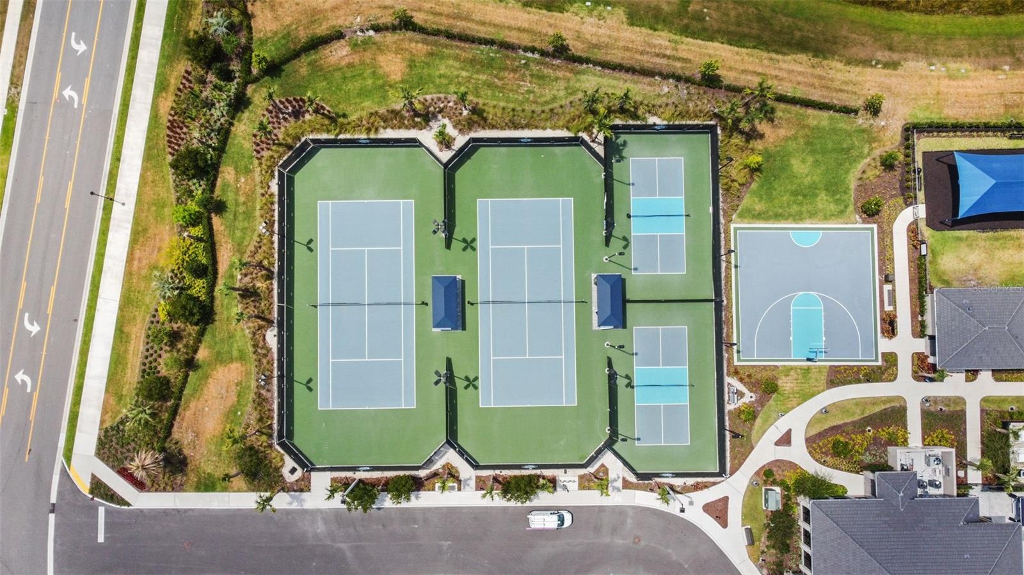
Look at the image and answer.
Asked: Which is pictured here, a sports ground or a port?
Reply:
sports ground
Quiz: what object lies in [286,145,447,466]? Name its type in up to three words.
tennis court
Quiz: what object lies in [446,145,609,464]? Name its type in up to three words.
tennis court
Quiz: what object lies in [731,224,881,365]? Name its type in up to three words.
basketball court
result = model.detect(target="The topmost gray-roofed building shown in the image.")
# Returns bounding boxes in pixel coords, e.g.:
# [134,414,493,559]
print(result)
[924,287,1024,370]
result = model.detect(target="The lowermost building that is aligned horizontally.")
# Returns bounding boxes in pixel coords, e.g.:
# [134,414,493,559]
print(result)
[799,468,1023,575]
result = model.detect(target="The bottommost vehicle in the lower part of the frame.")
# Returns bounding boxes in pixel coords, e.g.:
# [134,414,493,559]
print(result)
[528,510,573,532]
